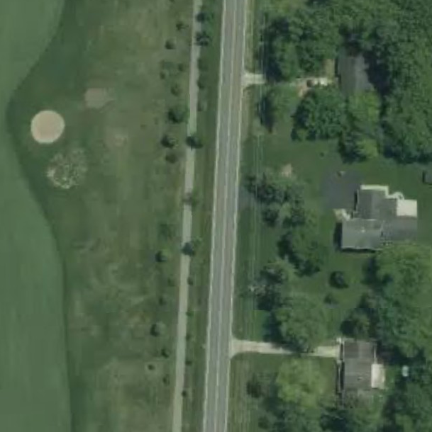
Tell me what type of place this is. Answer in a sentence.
The area seen from above is a golf course.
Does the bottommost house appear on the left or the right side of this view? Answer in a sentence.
You can find the bottommost house on the right side of the picture.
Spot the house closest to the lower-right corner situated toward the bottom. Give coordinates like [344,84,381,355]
[342,341,377,392]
